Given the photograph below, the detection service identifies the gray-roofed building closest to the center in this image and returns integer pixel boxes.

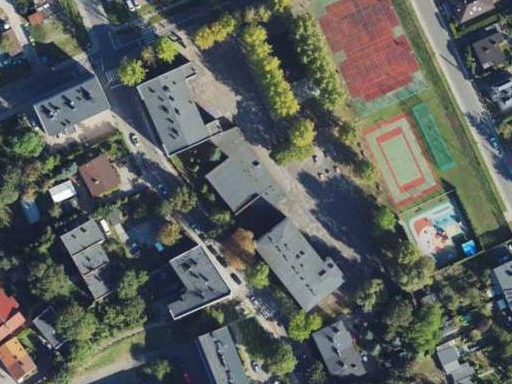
[206,128,286,216]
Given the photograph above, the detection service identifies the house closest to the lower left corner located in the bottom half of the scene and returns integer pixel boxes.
[0,337,37,381]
